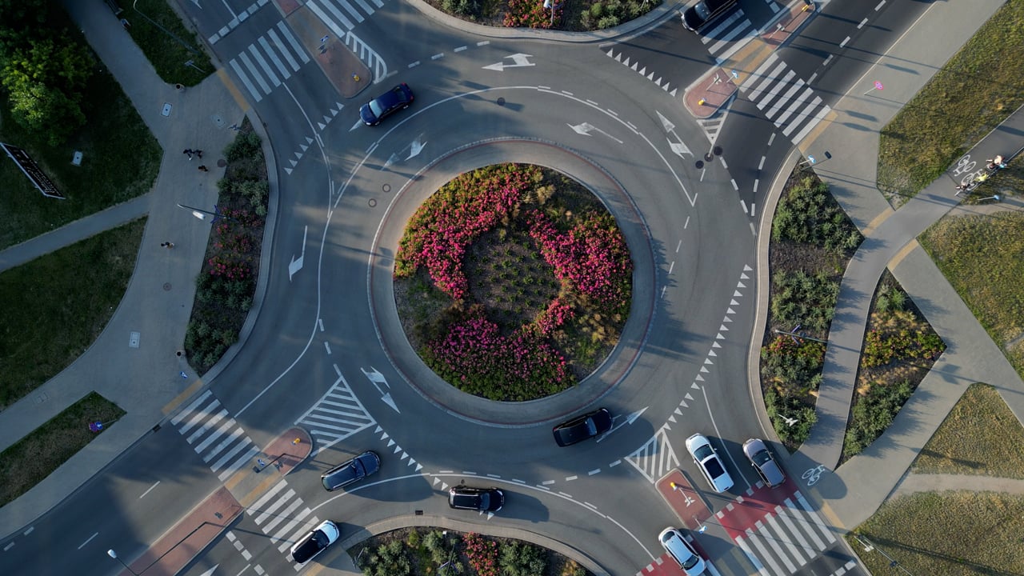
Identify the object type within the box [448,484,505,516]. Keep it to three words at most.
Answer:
car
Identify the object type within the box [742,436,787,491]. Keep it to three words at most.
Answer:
car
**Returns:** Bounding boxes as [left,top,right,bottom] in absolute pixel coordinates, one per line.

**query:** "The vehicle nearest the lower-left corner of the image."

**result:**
[290,521,342,566]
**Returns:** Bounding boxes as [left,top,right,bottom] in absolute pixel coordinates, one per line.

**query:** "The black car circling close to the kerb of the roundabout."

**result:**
[552,409,614,448]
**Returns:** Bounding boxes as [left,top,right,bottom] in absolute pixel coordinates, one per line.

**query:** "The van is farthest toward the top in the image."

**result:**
[683,0,743,30]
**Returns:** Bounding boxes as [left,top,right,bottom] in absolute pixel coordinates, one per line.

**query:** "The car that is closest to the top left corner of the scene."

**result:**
[359,82,414,125]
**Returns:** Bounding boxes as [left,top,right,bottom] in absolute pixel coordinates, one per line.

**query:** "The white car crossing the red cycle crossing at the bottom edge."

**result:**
[657,524,706,576]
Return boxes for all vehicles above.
[742,436,787,491]
[290,521,342,566]
[657,524,706,576]
[683,0,743,30]
[359,82,414,125]
[685,432,735,493]
[552,409,614,448]
[448,484,505,516]
[319,450,383,493]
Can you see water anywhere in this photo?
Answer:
No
